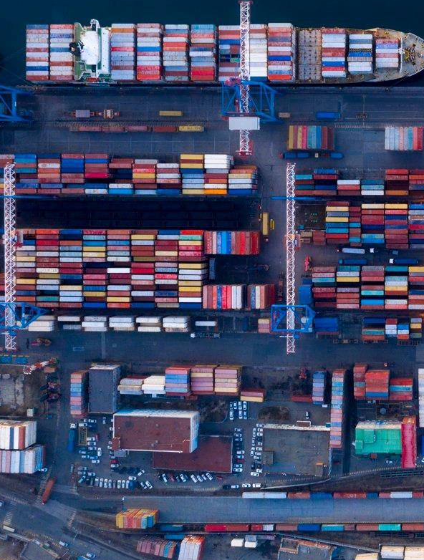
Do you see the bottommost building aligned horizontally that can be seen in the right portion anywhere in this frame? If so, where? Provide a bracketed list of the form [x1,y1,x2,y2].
[278,536,335,560]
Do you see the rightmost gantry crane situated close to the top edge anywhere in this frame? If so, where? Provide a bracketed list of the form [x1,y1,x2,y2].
[220,0,285,154]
